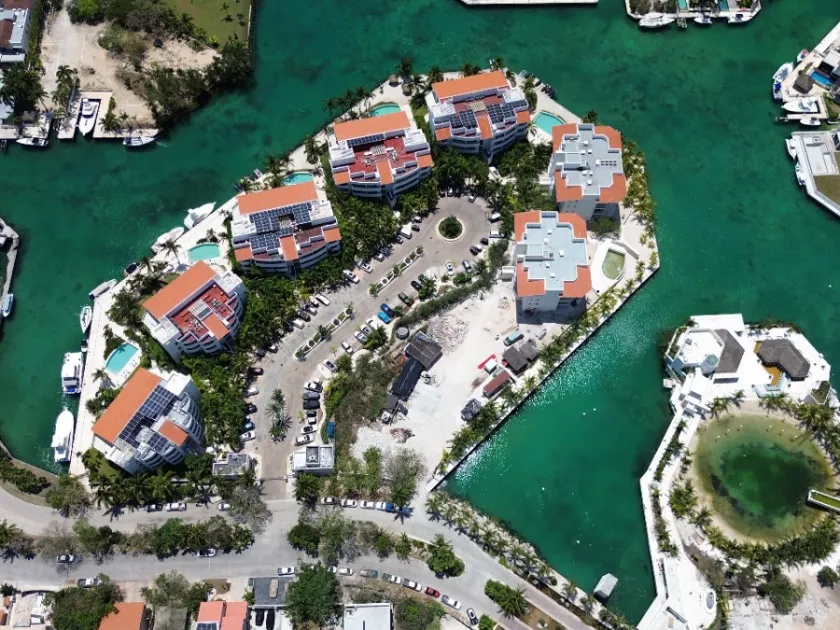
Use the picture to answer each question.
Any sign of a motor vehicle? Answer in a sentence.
Yes, the image includes a motor vehicle.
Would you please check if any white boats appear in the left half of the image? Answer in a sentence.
Yes, there is a white boat in the left half of the image.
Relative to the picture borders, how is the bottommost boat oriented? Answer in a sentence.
Seen from above, the bottommost boat lies from top to bottom.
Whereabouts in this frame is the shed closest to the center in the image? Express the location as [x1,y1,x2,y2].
[405,332,442,372]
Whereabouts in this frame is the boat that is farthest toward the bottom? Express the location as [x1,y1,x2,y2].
[49,408,72,463]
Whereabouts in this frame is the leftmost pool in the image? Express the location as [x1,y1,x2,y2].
[104,343,139,373]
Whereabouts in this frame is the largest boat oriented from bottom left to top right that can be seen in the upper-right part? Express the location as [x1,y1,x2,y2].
[769,63,793,83]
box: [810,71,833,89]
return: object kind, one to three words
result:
swimming pool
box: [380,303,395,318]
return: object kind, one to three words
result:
vehicle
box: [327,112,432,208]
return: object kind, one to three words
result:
building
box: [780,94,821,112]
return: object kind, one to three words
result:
boat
